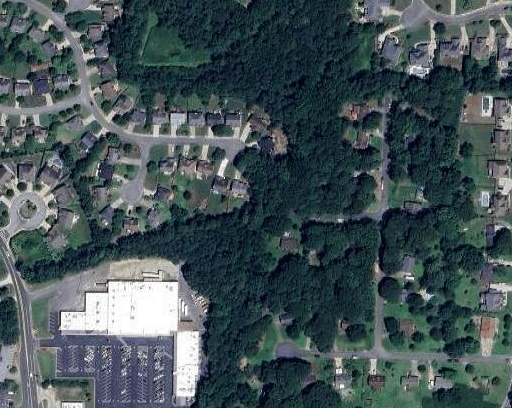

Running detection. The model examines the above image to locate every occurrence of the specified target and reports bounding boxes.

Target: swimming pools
[482,191,490,205]
[483,96,492,114]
